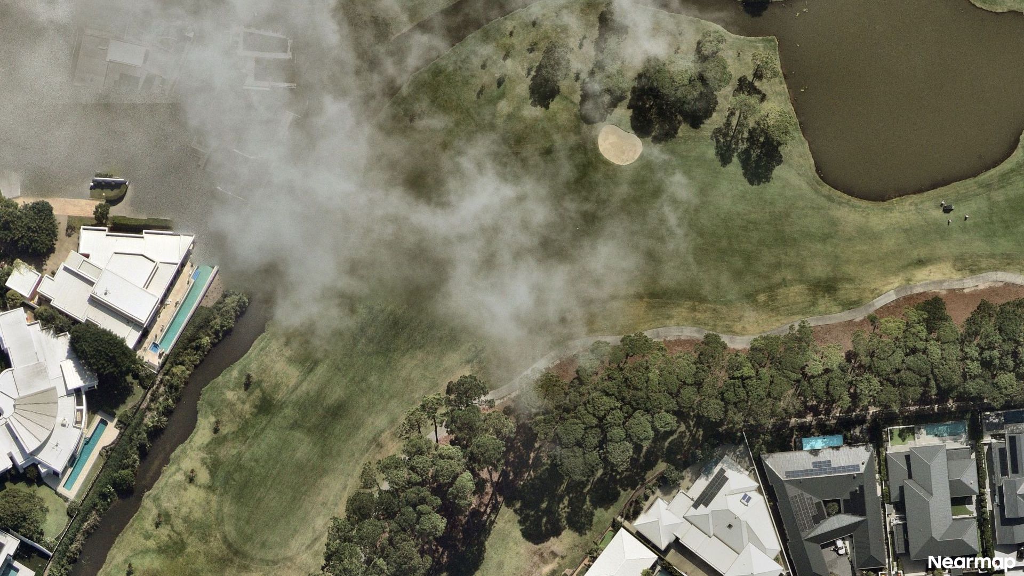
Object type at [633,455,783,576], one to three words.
house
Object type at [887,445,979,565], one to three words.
house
